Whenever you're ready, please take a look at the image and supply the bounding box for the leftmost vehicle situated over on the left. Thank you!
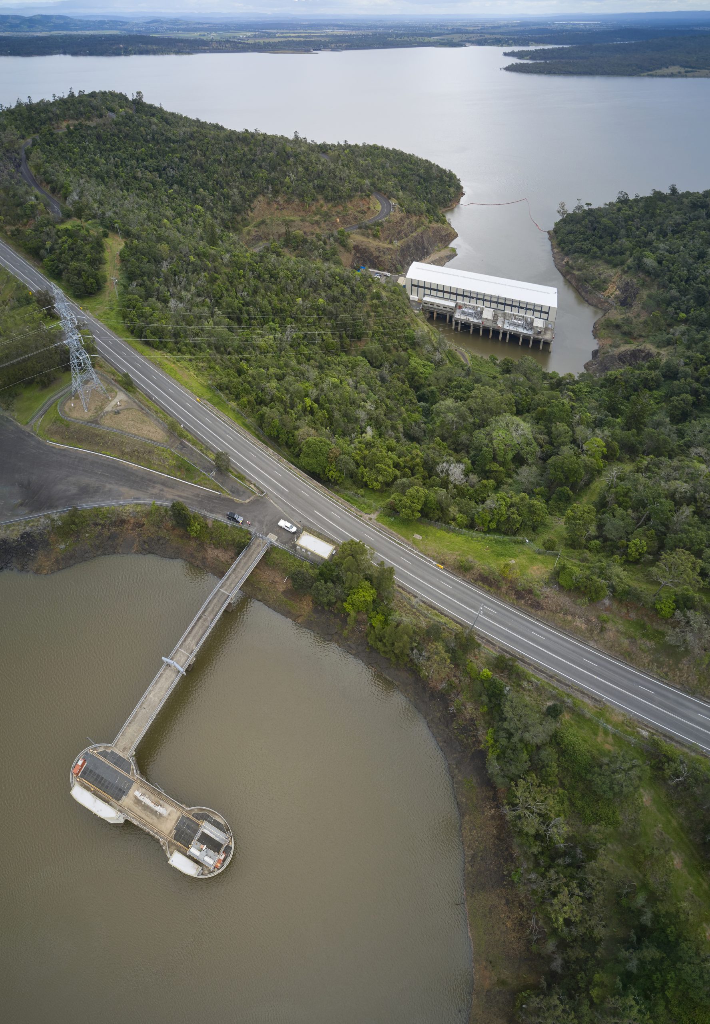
[225,511,244,524]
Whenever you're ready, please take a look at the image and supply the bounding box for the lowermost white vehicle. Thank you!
[277,518,297,532]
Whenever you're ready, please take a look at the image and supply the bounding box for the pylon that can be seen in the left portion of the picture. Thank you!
[38,278,113,412]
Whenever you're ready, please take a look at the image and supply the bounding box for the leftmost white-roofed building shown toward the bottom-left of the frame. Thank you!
[70,784,129,830]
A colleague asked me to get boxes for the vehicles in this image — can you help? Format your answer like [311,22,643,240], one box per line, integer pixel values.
[277,518,297,532]
[225,511,244,524]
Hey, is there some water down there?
Yes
